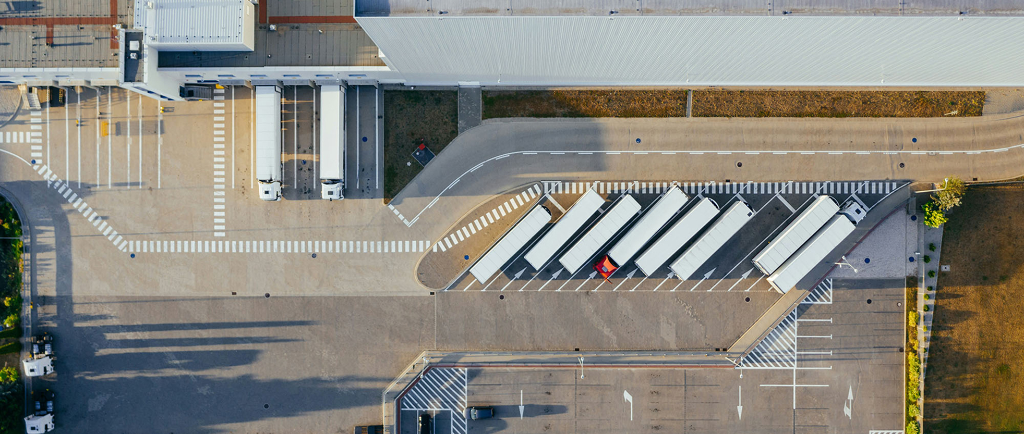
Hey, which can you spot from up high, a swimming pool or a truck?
truck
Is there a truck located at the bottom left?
Yes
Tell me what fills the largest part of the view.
paved ground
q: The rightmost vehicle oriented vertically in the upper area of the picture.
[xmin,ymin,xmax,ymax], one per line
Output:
[321,85,346,201]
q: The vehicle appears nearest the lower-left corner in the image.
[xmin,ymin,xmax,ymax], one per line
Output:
[23,390,57,434]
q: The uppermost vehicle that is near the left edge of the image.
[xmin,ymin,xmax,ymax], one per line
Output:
[21,333,56,377]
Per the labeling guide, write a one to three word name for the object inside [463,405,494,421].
car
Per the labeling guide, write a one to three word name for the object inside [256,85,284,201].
truck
